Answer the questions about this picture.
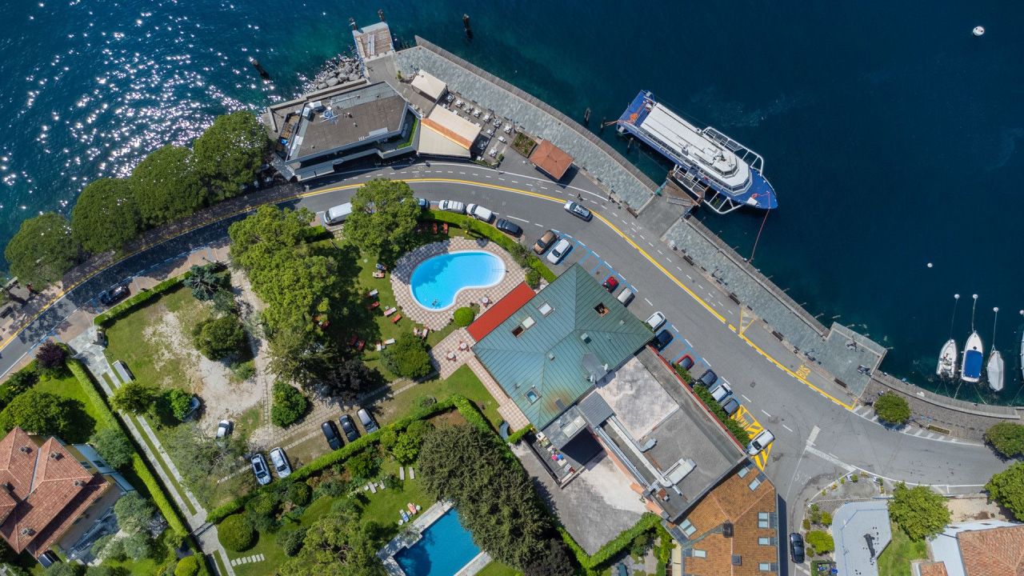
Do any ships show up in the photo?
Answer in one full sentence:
Yes, looking at the shot, I can spot a ship.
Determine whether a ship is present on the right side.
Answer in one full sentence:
Yes, I can see a ship on the right side.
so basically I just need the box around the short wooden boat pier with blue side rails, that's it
[351,22,396,80]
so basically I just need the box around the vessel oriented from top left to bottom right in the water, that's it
[617,90,779,214]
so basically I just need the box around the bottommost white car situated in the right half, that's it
[745,429,773,456]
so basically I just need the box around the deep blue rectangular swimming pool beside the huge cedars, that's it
[378,501,492,576]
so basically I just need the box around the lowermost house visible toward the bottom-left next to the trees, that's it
[0,426,141,559]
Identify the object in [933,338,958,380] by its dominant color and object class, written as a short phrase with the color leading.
white boat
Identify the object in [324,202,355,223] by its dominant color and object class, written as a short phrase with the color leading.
white vehicle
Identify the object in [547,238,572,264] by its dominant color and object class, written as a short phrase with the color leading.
white car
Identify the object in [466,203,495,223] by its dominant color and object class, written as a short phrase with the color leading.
white car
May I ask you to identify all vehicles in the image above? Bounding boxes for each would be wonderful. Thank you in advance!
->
[644,308,667,332]
[270,446,292,475]
[533,230,558,254]
[217,419,232,444]
[340,413,361,441]
[679,352,696,369]
[547,238,572,264]
[616,286,635,305]
[495,218,521,238]
[466,203,495,223]
[721,394,743,416]
[602,273,621,293]
[650,328,674,352]
[324,202,355,223]
[358,406,378,433]
[708,380,734,403]
[745,429,773,456]
[251,454,272,484]
[788,532,804,563]
[563,200,592,222]
[692,365,719,388]
[183,395,203,419]
[438,199,468,213]
[320,420,344,448]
